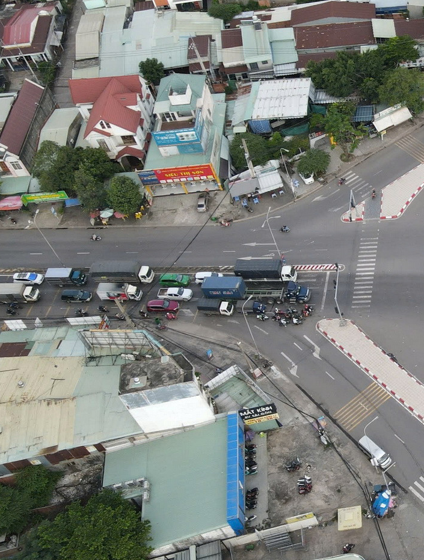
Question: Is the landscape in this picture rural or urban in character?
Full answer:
From above, the setting appears urban.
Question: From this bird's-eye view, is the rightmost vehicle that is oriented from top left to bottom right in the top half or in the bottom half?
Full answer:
You can find the rightmost vehicle that is oriented from top left to bottom right in the bottom half.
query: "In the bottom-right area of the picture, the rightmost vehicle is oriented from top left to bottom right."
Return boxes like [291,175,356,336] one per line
[357,430,394,471]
